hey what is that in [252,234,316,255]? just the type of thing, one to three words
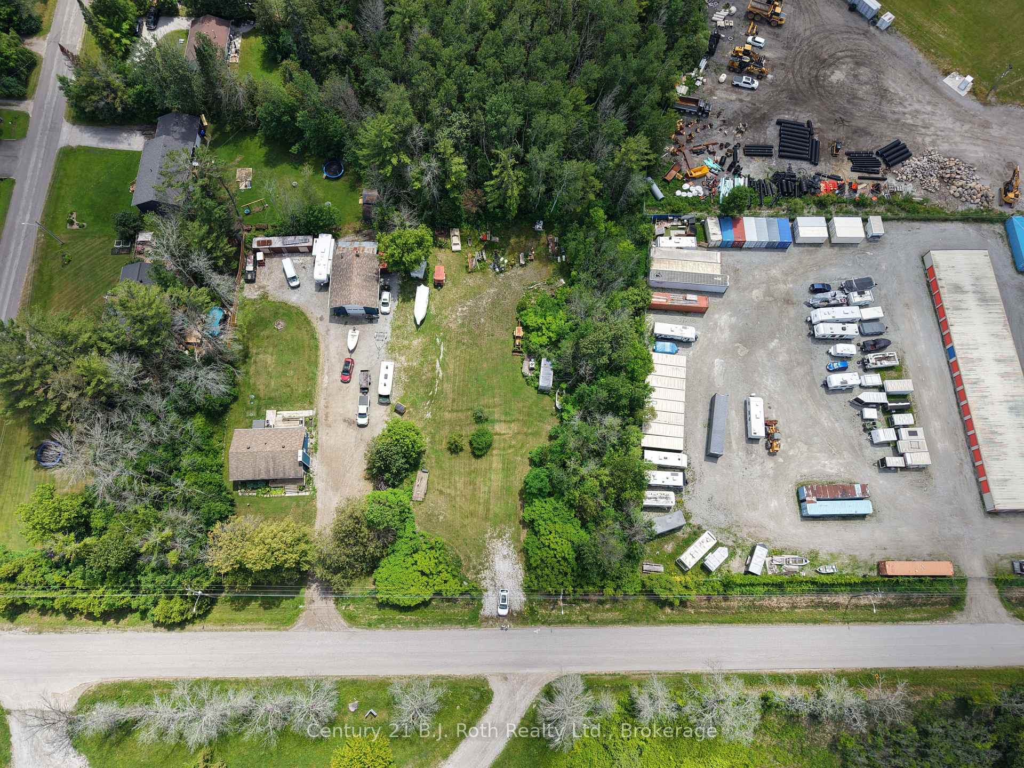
shed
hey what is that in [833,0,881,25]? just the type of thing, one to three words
trailer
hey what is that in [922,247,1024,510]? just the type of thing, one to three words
building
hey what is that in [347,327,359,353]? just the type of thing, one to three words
boat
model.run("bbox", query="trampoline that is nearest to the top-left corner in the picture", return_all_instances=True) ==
[324,161,342,178]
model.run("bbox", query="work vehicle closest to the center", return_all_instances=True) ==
[512,321,524,355]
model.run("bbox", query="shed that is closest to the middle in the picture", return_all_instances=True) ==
[539,359,554,390]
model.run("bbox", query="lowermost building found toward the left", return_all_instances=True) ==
[229,427,316,496]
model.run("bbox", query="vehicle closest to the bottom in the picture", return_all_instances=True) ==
[497,589,509,617]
